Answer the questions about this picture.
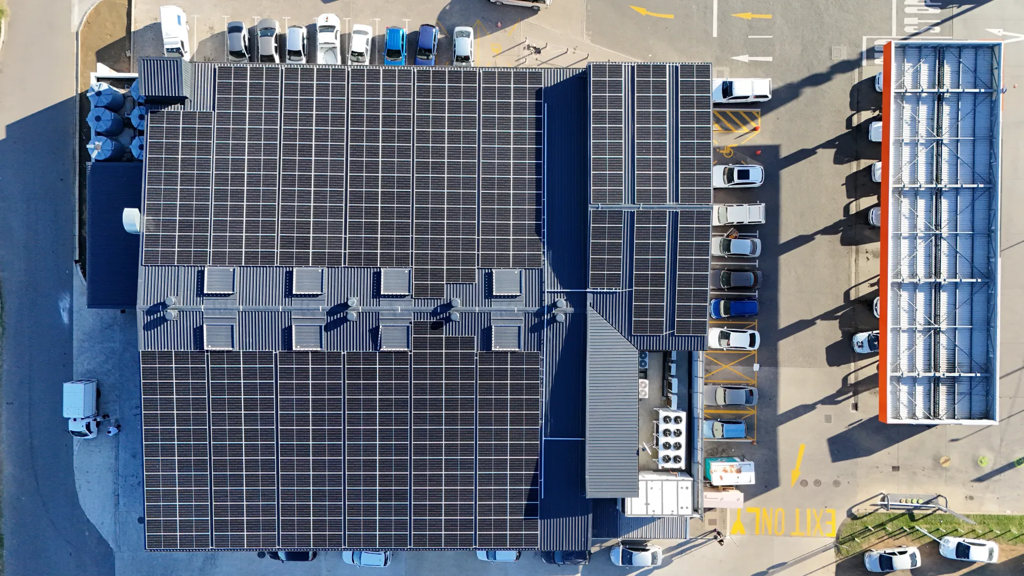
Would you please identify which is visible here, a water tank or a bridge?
water tank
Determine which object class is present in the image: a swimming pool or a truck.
truck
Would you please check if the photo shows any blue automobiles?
Yes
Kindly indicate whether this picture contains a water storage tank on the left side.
Yes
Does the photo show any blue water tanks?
Yes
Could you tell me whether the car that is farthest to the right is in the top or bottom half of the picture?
bottom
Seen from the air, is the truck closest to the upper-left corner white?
Yes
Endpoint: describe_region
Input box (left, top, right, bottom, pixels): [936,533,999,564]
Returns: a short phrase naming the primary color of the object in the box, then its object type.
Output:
white car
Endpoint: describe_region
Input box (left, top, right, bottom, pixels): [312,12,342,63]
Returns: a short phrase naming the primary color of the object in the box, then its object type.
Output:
white truck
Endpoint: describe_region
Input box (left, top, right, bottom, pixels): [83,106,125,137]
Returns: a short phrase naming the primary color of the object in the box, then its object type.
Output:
blue water tank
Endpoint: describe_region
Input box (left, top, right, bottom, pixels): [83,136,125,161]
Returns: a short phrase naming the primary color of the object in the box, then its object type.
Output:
blue water tank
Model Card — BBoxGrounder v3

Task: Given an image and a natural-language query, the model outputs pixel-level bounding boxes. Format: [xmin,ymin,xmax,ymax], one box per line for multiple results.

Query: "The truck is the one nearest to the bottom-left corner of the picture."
[63,378,107,439]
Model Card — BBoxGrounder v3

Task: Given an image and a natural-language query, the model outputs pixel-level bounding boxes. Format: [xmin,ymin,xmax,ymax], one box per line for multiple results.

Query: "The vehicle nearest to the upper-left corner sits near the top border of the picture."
[160,3,197,63]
